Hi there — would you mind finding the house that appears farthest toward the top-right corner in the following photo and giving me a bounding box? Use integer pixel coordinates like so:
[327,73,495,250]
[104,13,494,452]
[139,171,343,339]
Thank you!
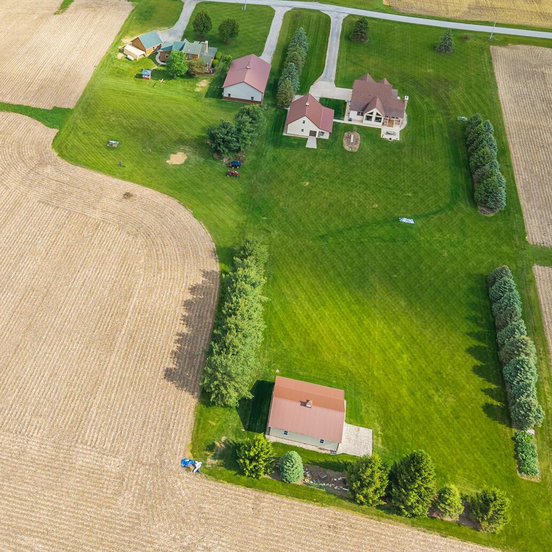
[349,73,411,129]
